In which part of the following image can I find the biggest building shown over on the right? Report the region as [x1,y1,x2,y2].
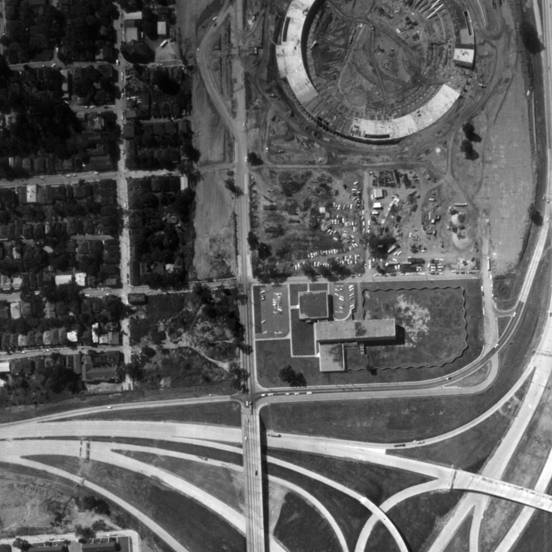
[317,319,395,342]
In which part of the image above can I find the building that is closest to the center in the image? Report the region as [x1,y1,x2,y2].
[299,291,330,321]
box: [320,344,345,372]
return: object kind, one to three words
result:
building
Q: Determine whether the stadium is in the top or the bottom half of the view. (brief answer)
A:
top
